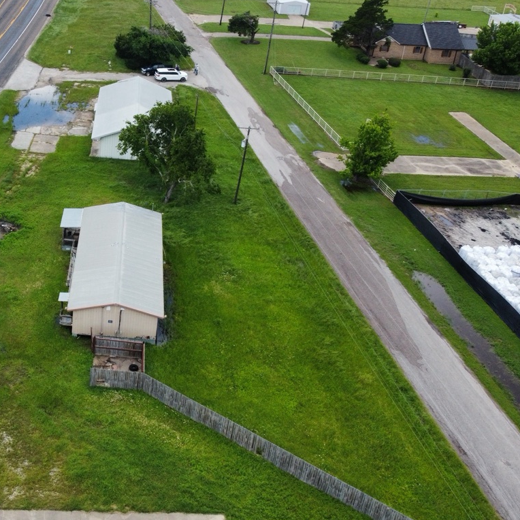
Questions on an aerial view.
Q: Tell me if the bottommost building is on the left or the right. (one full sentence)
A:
It is on the left.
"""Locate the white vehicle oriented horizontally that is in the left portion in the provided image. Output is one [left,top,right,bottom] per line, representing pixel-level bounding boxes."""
[154,65,189,81]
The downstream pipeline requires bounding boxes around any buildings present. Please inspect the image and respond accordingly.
[269,0,312,15]
[57,202,166,342]
[489,12,520,35]
[89,78,178,160]
[365,23,486,64]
